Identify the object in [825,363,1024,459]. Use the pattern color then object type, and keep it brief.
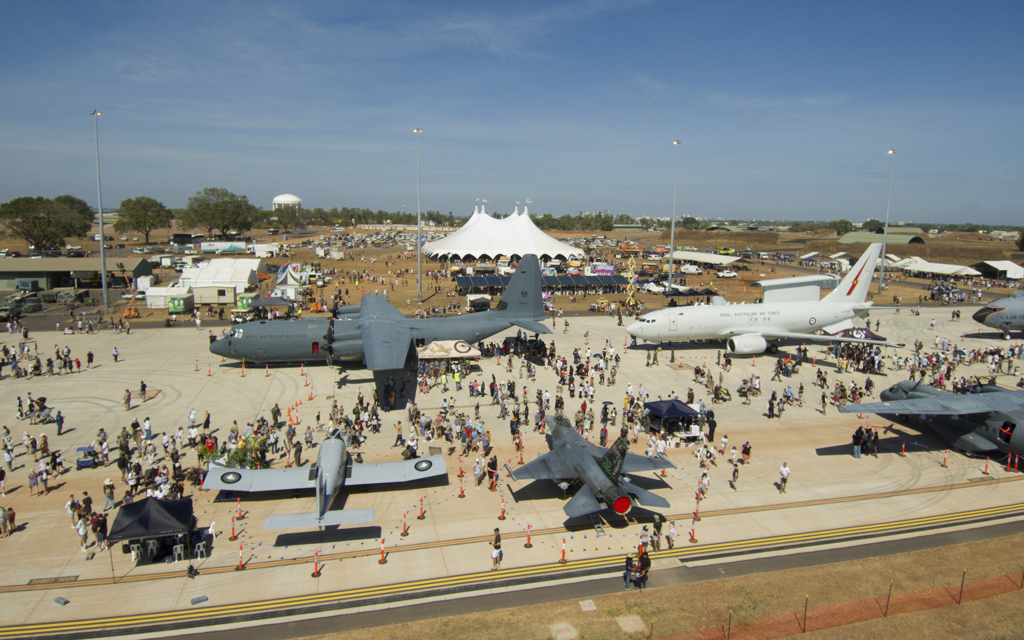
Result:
gray airplane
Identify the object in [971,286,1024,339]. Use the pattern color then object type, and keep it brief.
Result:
gray airplane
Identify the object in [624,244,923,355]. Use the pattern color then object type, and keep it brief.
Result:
white airplane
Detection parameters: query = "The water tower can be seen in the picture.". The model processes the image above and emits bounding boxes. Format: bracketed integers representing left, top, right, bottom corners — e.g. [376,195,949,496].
[271,194,301,212]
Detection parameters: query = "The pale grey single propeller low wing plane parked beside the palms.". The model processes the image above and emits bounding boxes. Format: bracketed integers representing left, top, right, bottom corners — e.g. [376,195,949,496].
[201,412,446,530]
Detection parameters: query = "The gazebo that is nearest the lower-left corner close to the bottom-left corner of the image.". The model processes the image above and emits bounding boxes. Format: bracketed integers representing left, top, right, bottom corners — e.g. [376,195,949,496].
[108,497,201,585]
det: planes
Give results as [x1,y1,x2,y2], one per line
[825,363,1024,459]
[624,244,923,355]
[201,412,446,530]
[210,255,562,377]
[971,286,1024,339]
[503,410,679,526]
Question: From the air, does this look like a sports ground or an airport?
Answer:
airport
